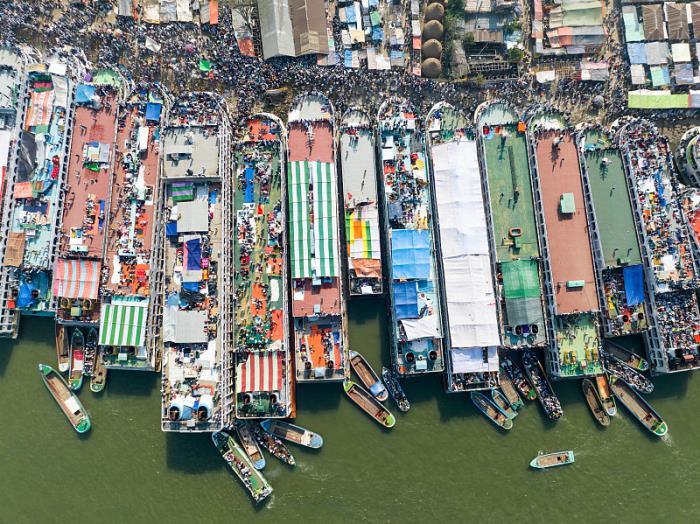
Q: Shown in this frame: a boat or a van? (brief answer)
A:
boat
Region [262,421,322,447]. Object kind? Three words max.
boat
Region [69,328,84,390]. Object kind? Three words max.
boat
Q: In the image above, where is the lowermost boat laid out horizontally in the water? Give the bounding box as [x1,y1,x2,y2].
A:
[530,452,574,469]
